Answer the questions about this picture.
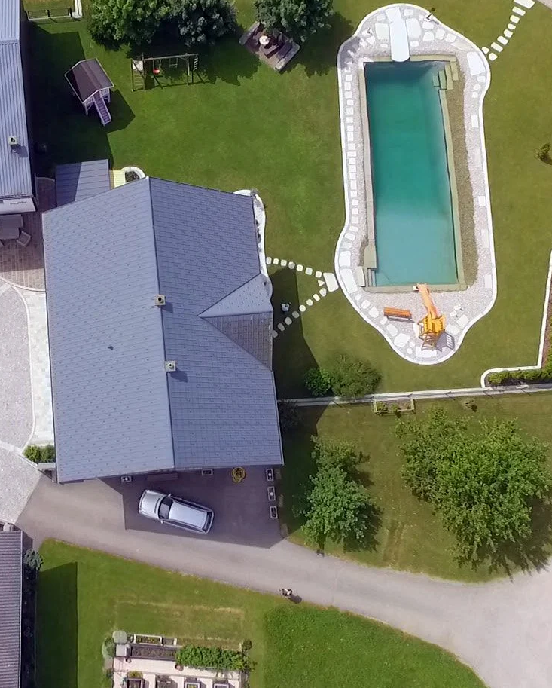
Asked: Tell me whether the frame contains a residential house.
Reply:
Yes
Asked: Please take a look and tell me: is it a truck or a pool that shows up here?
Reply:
pool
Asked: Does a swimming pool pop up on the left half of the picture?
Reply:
No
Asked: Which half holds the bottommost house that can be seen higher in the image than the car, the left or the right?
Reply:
left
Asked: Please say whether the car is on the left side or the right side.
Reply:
left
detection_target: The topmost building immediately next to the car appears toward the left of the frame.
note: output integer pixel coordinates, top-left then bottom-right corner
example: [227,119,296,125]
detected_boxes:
[39,174,287,481]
